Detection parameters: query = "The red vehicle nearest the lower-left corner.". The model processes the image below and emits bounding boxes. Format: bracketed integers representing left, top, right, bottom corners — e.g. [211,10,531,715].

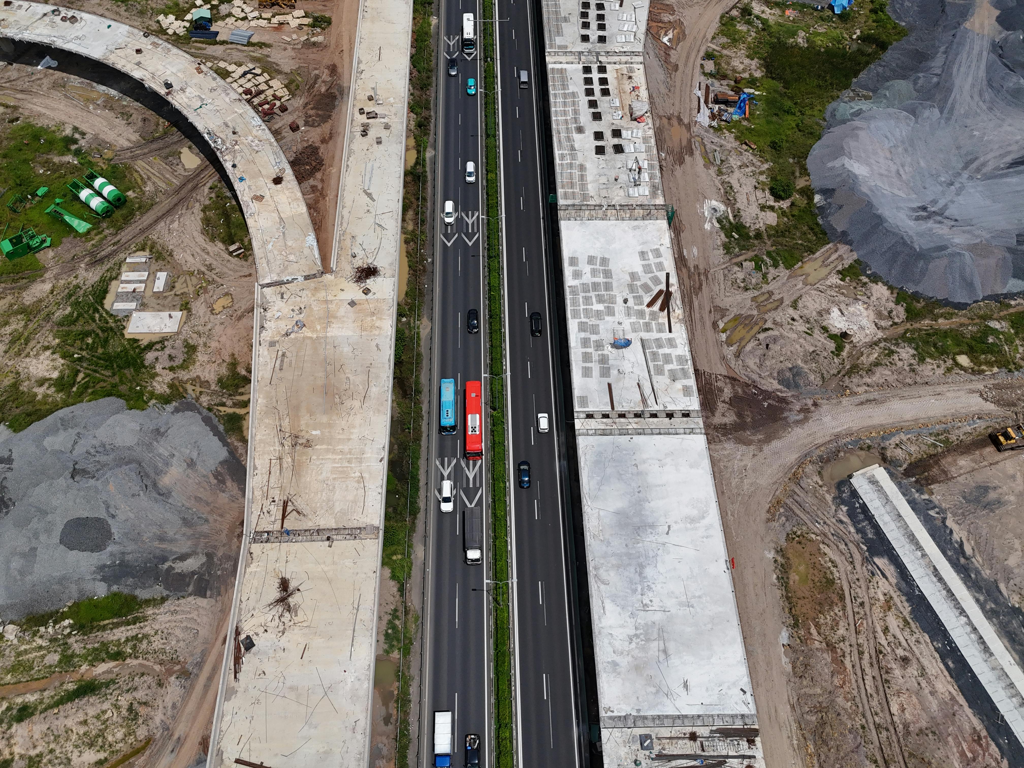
[464,384,484,455]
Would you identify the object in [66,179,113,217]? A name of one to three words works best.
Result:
silo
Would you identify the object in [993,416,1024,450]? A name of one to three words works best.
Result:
work vehicle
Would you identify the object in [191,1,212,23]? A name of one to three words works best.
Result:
shed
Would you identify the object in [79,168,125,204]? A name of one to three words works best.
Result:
silo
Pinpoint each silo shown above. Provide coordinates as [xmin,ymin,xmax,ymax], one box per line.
[66,179,113,217]
[79,168,125,204]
